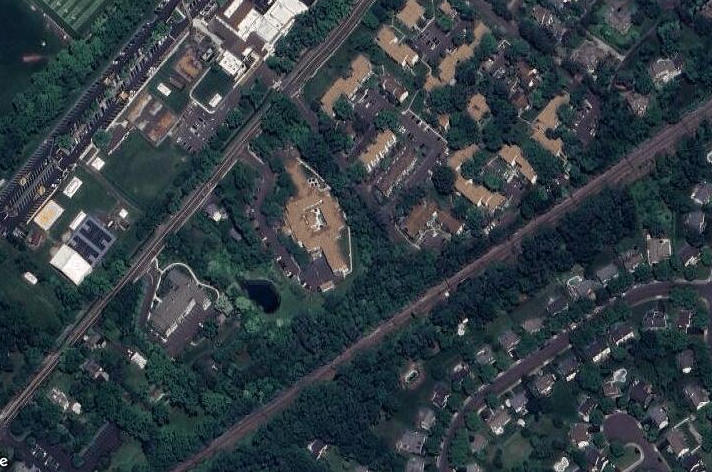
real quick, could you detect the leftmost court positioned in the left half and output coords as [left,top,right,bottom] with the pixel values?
[34,199,64,230]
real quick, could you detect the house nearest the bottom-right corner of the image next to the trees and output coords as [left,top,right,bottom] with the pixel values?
[680,454,705,472]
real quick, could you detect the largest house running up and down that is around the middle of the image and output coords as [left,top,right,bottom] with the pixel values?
[286,158,350,292]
